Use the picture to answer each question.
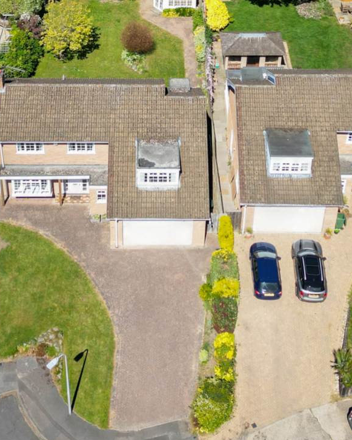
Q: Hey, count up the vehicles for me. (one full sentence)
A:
I count 2 vehicles.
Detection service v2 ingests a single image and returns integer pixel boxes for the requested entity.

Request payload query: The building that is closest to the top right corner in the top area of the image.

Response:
[219,26,297,77]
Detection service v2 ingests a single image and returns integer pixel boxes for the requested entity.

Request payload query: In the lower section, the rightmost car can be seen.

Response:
[290,239,329,300]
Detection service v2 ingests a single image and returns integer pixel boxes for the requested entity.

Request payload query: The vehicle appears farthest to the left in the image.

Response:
[246,243,283,300]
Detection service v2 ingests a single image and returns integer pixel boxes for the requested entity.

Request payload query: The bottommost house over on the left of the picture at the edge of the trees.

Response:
[0,60,211,246]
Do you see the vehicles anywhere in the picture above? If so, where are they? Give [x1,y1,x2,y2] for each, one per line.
[290,239,329,300]
[246,243,283,300]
